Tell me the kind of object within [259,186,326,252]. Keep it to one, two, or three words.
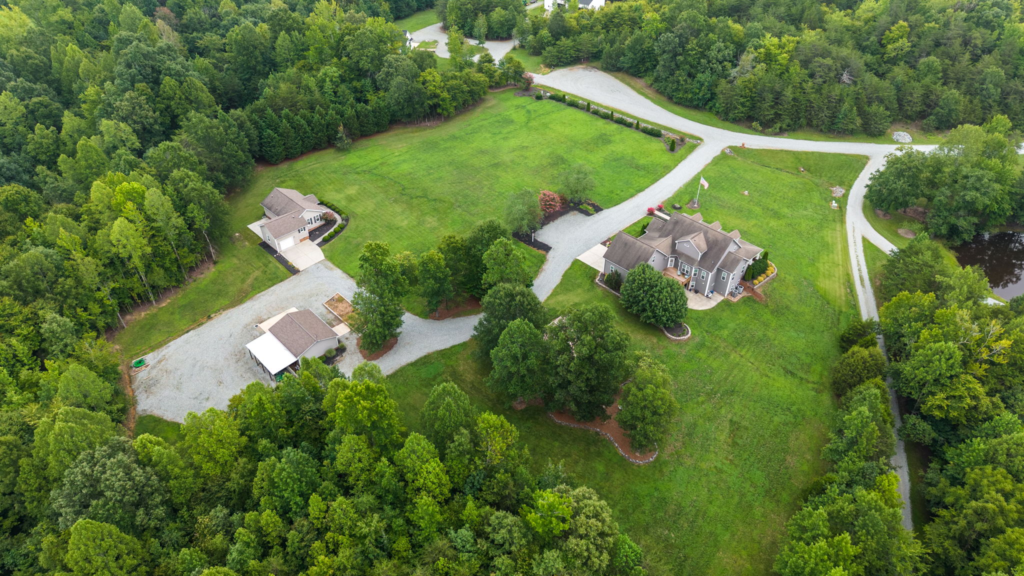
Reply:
house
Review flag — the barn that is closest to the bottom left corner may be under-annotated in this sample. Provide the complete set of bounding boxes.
[245,309,339,377]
